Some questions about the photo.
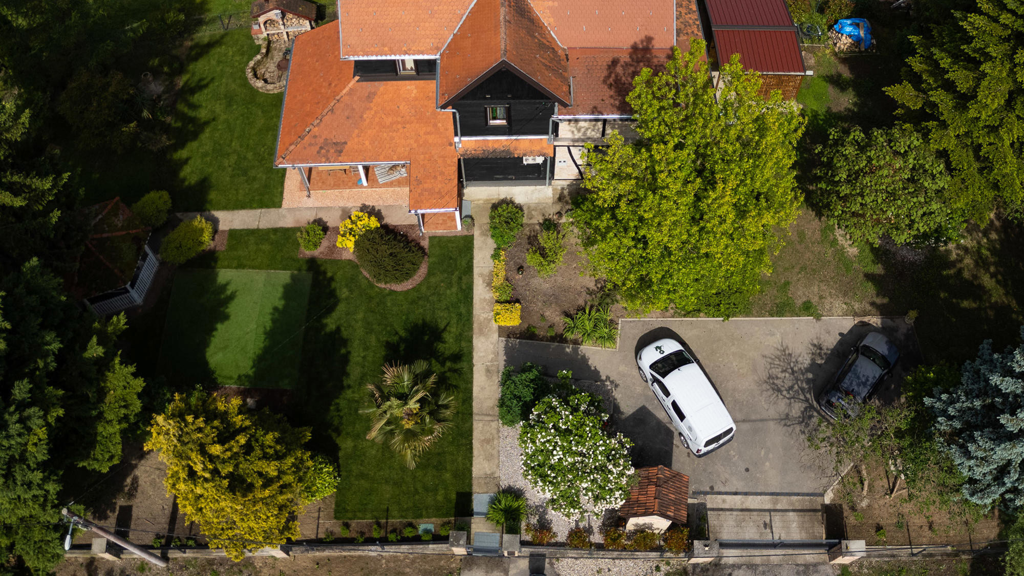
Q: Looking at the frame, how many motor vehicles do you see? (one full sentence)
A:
Looking from above, you can make out 2 motor vehicles.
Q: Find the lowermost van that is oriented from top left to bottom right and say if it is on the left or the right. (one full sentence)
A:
The lowermost van that is oriented from top left to bottom right appears in the right half of the scene.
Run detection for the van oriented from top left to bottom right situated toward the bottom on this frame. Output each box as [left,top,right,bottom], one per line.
[637,338,742,459]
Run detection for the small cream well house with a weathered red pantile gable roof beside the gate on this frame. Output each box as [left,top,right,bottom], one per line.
[617,461,691,527]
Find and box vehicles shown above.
[813,328,905,429]
[637,338,742,459]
